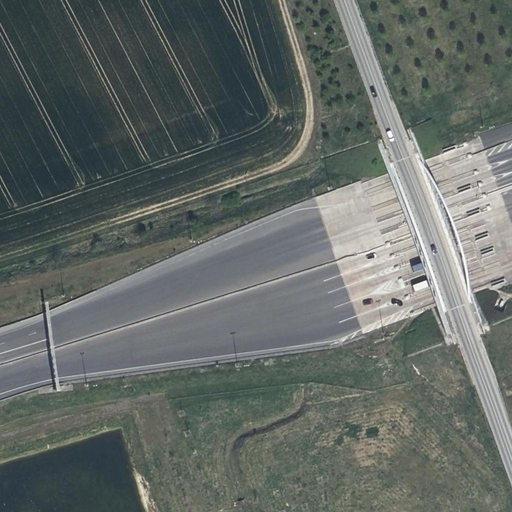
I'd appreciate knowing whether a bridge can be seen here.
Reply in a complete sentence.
Yes, the image includes a bridge.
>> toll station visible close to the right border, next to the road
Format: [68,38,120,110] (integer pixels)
[316,134,512,337]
